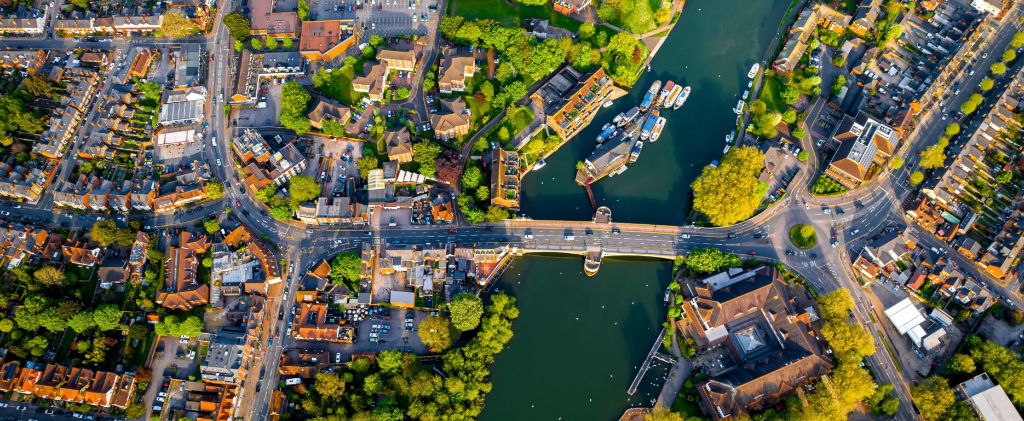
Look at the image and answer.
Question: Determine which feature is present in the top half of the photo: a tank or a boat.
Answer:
boat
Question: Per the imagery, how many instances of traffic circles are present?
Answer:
one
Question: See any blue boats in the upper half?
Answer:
Yes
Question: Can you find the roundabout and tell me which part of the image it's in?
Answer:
right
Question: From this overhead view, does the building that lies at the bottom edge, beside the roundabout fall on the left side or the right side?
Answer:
right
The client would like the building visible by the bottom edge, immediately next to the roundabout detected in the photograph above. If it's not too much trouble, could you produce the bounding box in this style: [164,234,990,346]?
[674,266,832,421]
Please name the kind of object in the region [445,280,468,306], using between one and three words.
shed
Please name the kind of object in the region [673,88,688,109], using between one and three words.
boat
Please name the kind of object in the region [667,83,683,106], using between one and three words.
boat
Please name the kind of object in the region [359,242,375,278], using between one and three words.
house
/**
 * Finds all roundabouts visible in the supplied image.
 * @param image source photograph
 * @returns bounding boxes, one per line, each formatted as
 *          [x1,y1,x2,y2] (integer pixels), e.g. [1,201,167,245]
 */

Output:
[771,207,837,267]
